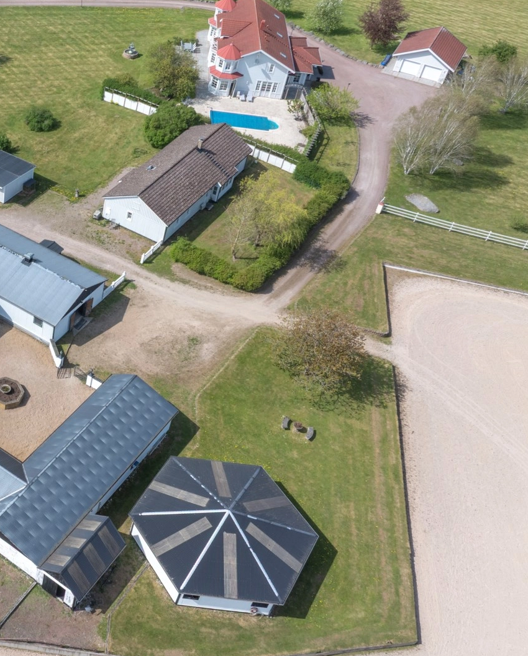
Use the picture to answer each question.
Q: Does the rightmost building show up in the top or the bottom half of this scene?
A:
top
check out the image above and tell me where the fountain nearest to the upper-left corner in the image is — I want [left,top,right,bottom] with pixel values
[121,40,140,58]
